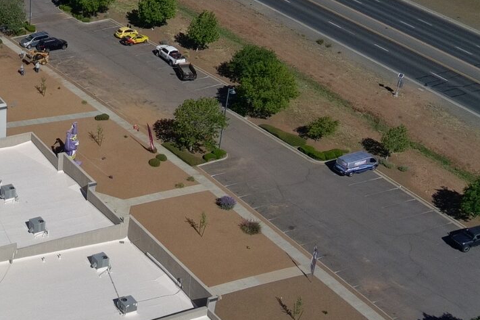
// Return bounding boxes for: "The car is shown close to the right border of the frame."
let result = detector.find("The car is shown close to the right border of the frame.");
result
[446,222,480,252]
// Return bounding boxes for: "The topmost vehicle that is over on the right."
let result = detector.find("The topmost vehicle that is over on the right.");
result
[333,152,379,177]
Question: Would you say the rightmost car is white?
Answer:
No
